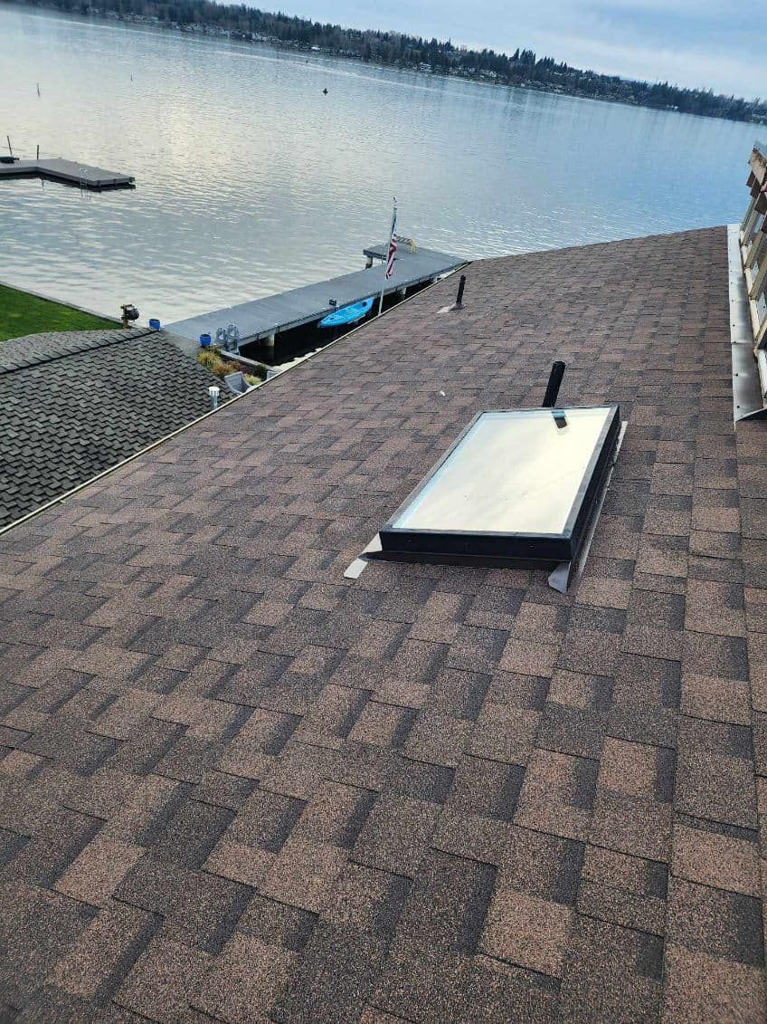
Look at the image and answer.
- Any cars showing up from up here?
No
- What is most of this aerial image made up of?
buildings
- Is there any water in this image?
Yes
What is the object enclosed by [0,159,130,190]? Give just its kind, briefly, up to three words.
pier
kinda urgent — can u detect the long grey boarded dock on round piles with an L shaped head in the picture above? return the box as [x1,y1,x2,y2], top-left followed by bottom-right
[160,241,473,358]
